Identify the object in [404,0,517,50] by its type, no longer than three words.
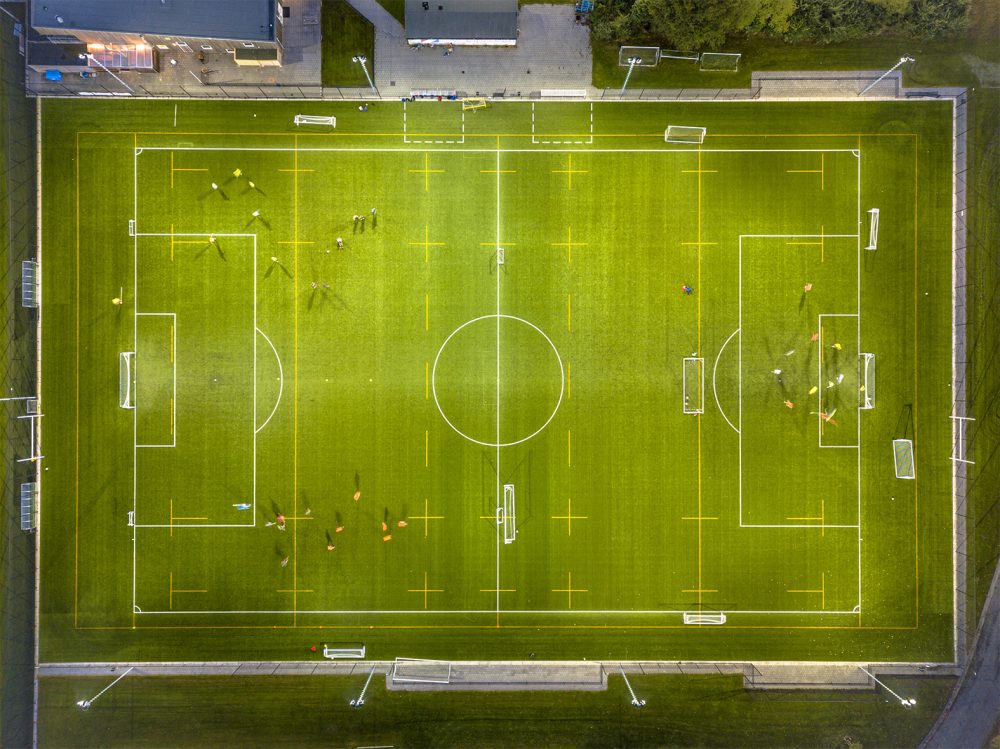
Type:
building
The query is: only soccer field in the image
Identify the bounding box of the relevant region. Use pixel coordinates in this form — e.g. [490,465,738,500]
[39,99,953,662]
